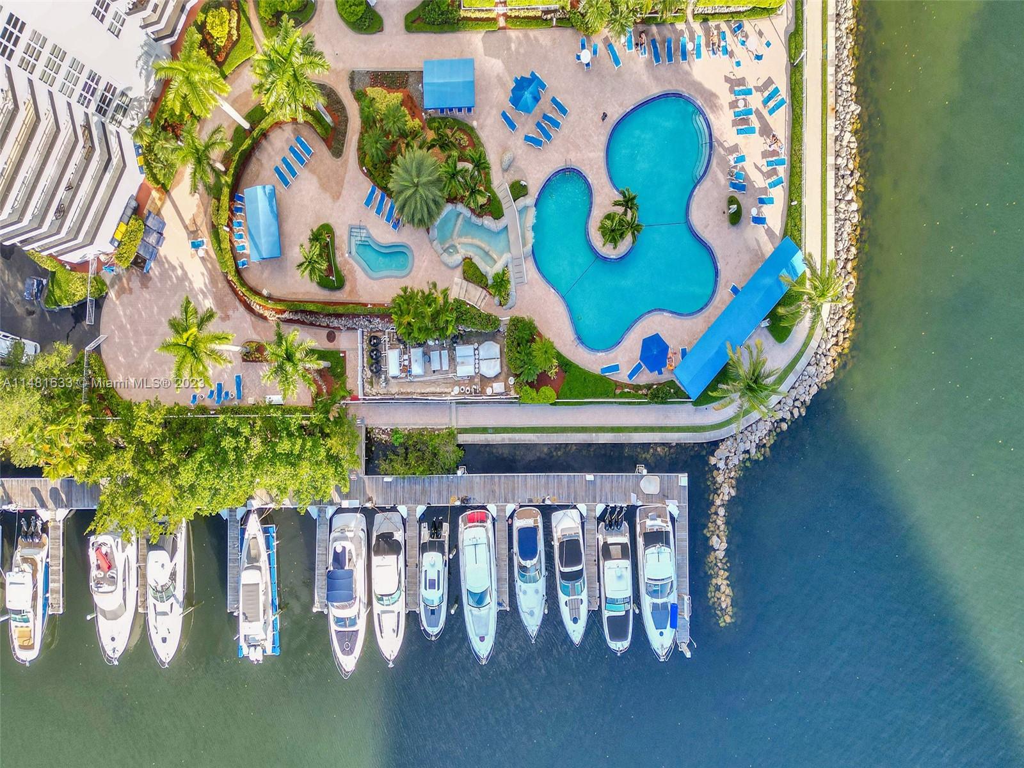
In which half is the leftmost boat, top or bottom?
bottom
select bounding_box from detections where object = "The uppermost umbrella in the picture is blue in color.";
[508,75,543,112]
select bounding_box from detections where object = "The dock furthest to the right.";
[675,510,689,642]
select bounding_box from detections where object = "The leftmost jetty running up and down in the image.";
[48,511,69,614]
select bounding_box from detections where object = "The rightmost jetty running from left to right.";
[268,473,689,510]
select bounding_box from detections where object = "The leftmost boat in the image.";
[6,510,52,669]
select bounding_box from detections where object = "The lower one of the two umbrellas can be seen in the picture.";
[636,335,672,370]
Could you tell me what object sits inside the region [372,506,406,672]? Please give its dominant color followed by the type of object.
white boat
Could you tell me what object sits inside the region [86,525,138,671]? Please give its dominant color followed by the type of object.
white boat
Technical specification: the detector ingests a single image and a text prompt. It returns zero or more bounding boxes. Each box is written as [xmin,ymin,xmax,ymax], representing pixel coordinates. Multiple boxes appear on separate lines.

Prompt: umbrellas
[508,75,543,112]
[636,335,672,370]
